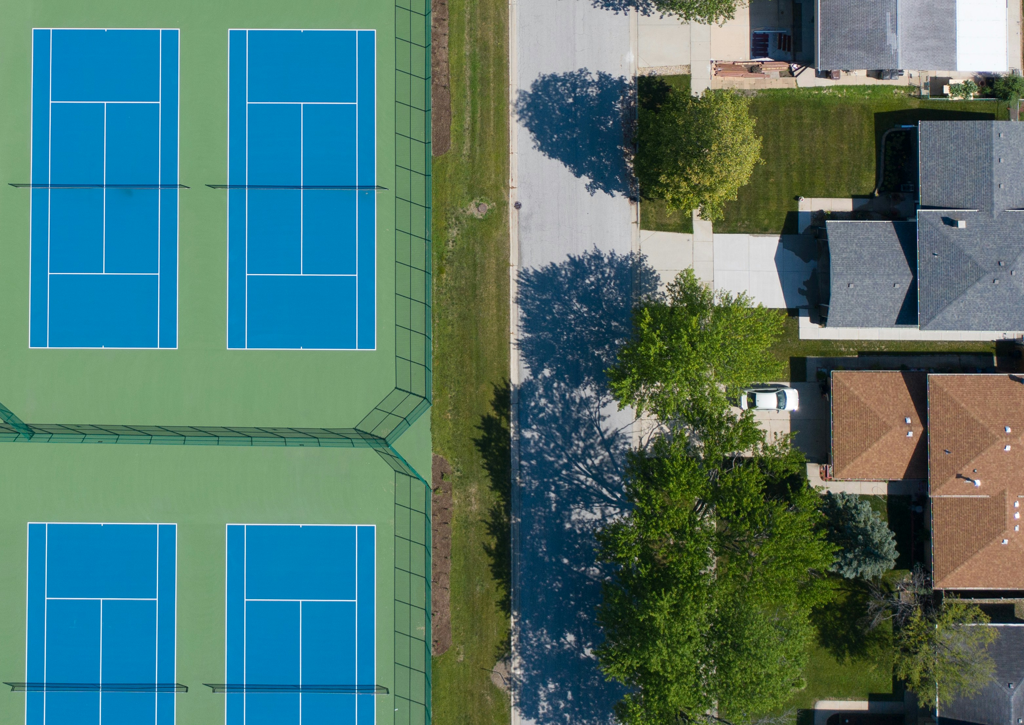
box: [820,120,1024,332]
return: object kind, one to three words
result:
house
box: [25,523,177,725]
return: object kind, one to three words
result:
tennis court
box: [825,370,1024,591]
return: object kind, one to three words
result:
house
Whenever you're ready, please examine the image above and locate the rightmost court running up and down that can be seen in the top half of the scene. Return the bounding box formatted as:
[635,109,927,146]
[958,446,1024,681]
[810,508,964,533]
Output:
[227,28,376,350]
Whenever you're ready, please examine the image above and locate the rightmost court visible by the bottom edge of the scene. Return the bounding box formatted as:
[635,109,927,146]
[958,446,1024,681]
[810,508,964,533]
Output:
[225,524,376,725]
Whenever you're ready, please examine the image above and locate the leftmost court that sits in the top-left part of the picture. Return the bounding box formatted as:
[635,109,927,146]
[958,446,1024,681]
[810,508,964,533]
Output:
[29,28,180,349]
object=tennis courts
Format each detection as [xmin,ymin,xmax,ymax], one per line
[25,523,177,725]
[225,524,376,725]
[227,28,376,350]
[29,28,180,349]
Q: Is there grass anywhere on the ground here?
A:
Yes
